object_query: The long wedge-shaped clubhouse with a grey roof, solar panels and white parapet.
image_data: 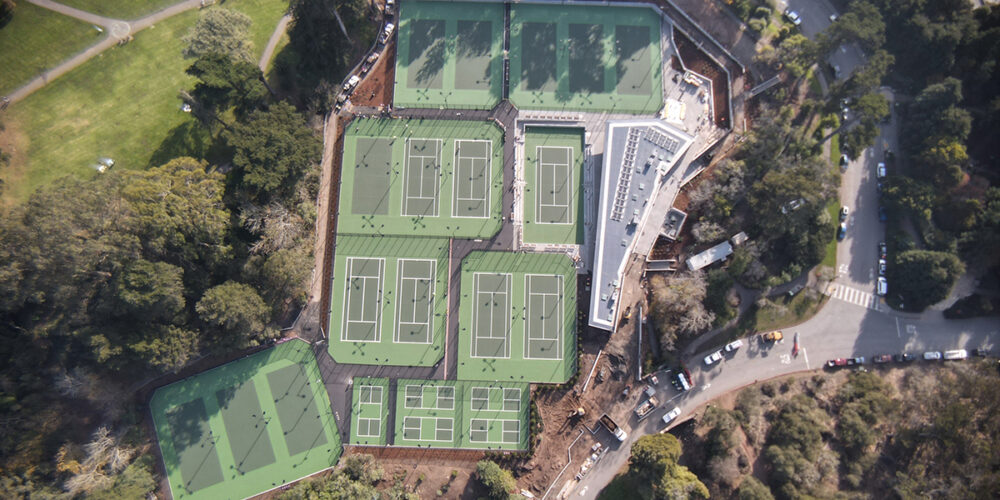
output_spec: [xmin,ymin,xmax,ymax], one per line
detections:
[589,120,693,332]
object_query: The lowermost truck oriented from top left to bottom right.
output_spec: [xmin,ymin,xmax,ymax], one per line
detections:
[598,414,626,442]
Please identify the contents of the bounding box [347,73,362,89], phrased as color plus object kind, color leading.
white vehicle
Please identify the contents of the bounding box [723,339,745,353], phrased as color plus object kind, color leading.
white vehicle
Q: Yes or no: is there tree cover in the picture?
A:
Yes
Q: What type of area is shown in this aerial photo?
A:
sports ground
